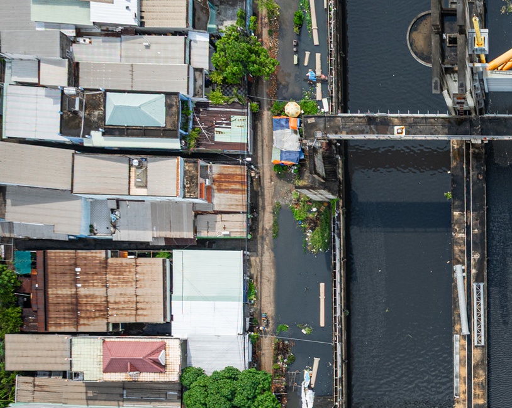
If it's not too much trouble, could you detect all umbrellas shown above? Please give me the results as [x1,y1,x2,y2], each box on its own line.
[285,103,301,116]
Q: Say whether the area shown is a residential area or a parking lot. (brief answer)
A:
residential area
